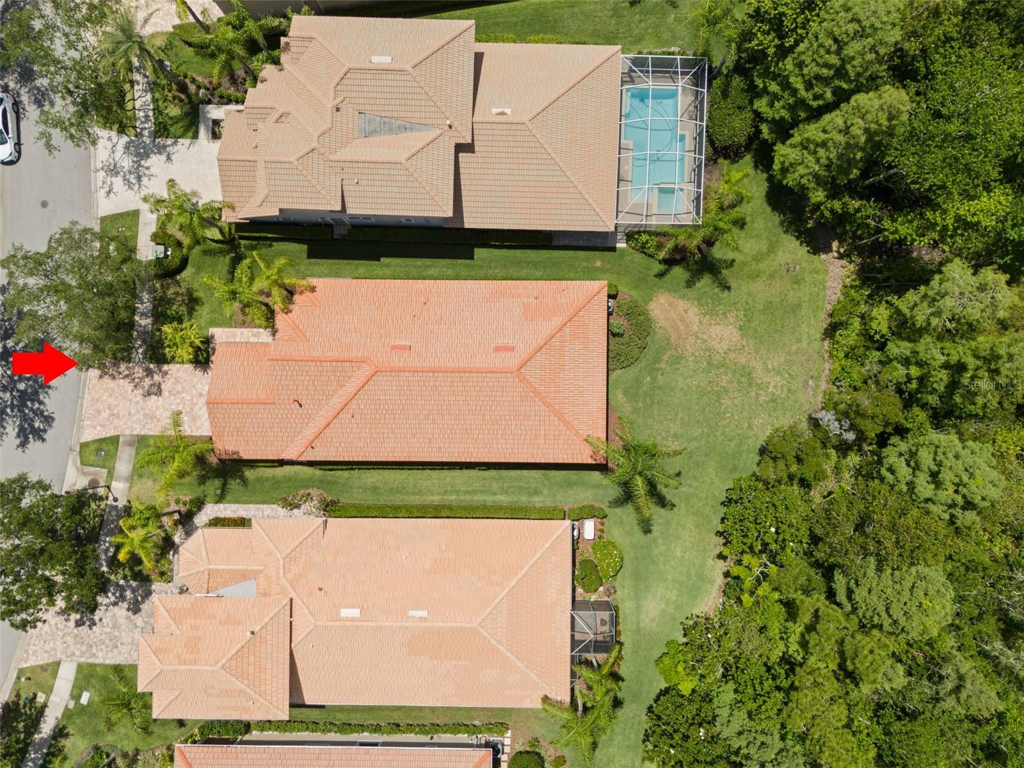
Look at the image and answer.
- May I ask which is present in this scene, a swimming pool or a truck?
swimming pool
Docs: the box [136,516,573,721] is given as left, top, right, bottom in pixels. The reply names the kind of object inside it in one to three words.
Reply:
house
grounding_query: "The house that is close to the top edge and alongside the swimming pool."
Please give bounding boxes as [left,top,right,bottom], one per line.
[216,15,623,234]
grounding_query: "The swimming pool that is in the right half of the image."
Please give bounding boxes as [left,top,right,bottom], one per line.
[620,83,690,217]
